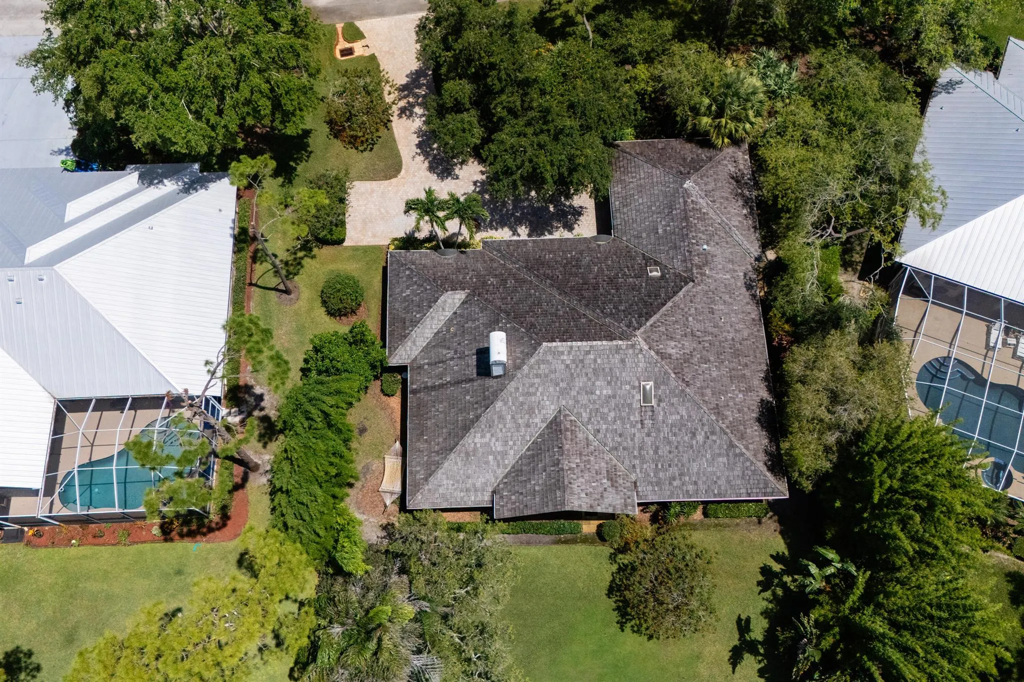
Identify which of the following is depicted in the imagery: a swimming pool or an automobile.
swimming pool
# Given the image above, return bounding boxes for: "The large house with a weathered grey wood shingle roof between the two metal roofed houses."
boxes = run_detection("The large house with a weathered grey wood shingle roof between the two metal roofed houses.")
[383,137,789,522]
